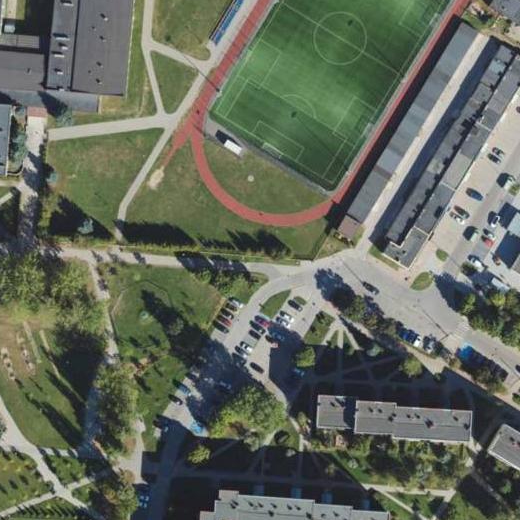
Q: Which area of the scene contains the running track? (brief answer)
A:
top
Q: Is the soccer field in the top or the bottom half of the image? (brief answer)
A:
top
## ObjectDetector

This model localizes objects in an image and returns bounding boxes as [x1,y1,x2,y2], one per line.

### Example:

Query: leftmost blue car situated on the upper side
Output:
[466,188,481,201]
